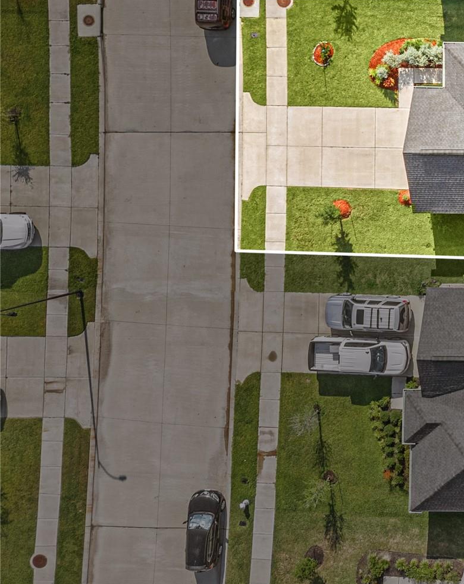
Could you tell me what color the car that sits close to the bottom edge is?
black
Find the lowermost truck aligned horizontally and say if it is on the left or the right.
right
